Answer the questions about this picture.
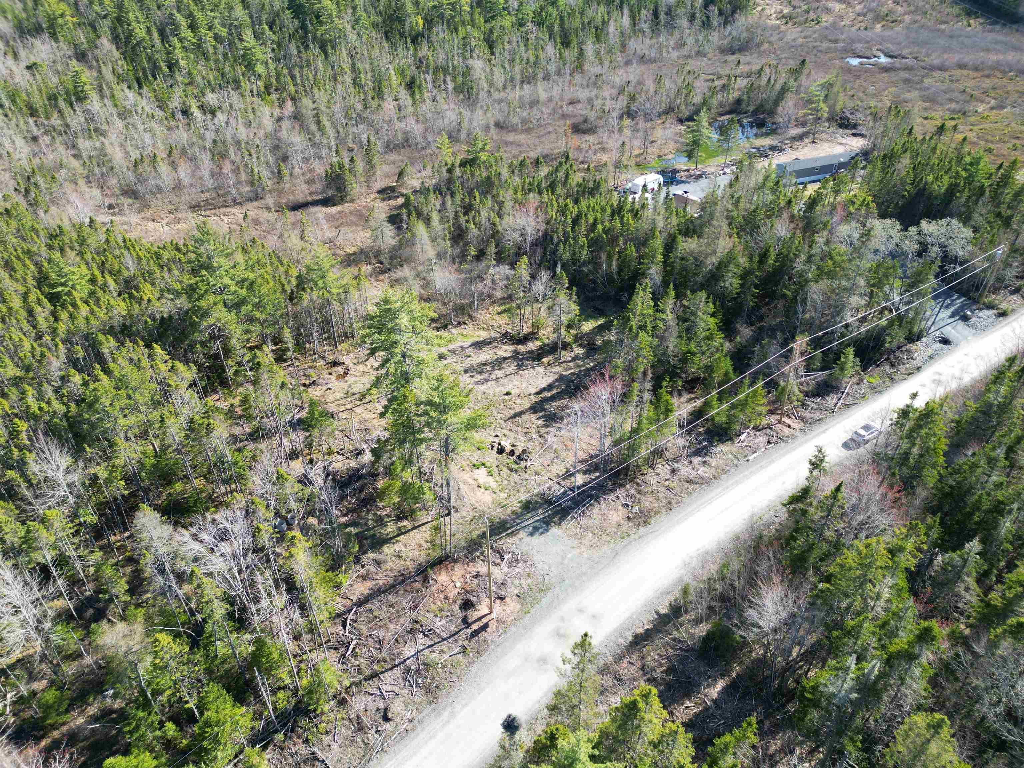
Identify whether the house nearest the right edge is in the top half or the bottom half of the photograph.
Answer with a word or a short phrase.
top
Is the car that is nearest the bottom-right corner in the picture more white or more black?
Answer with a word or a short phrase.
white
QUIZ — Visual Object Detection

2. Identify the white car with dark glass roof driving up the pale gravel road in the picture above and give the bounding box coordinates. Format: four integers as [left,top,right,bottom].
[849,414,888,441]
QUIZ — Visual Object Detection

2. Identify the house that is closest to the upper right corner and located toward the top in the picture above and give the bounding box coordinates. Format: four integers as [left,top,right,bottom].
[768,149,866,187]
